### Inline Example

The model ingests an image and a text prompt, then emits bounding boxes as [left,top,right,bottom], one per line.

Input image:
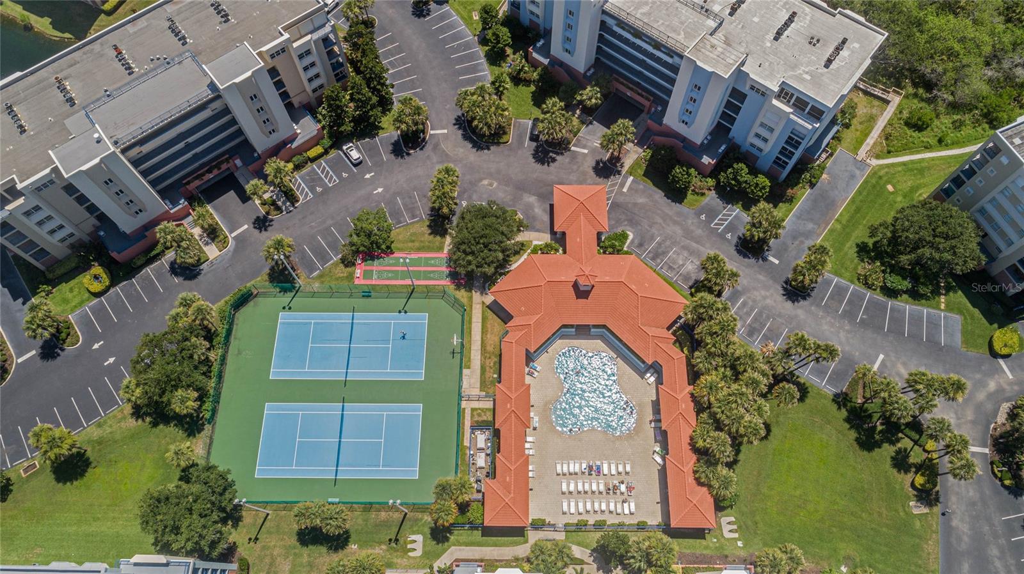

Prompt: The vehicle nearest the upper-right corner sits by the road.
[526,119,541,143]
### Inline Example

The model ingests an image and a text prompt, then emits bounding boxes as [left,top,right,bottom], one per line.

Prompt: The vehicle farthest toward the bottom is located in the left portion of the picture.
[341,143,365,165]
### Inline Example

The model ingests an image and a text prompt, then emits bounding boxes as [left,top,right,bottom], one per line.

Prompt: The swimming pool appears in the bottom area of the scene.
[550,345,639,437]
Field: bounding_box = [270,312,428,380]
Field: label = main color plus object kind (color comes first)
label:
blue tennis court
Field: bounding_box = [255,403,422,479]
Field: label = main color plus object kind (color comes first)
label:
blue tennis court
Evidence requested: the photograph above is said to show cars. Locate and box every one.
[341,143,365,165]
[526,119,541,143]
[325,0,343,14]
